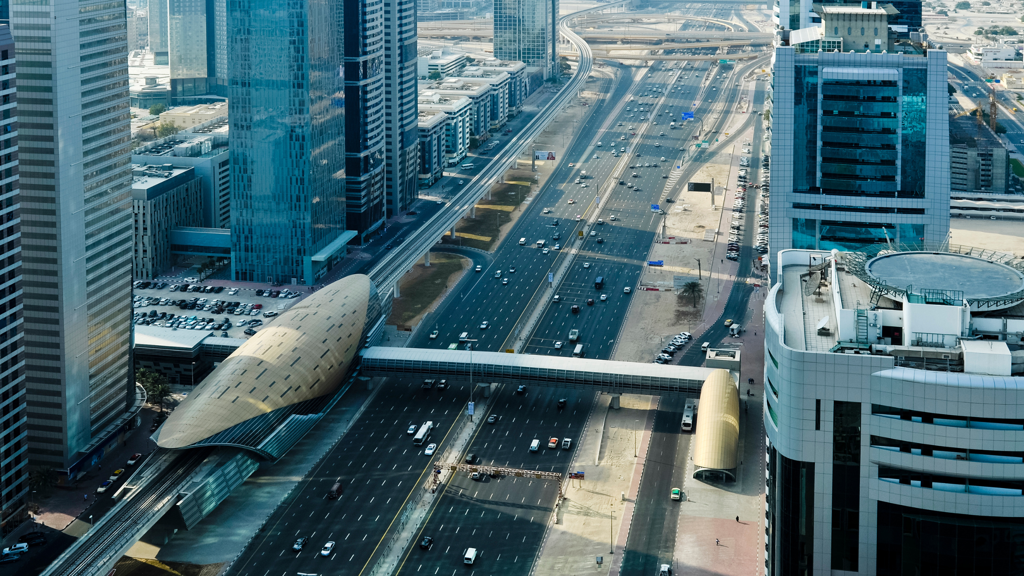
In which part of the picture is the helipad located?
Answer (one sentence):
The helipad is located in the right region of the scene.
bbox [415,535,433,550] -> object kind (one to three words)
car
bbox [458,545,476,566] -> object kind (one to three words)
vehicle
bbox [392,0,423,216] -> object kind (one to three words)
building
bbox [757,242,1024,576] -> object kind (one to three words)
building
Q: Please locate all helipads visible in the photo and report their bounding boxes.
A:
[843,236,1024,342]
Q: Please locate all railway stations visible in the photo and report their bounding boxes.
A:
[108,263,419,531]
